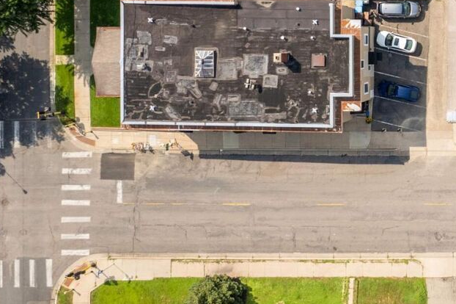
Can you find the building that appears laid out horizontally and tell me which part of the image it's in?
top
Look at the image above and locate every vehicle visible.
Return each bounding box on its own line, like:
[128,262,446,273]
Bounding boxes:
[378,80,420,101]
[376,31,417,53]
[377,0,419,20]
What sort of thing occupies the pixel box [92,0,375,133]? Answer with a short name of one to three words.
building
